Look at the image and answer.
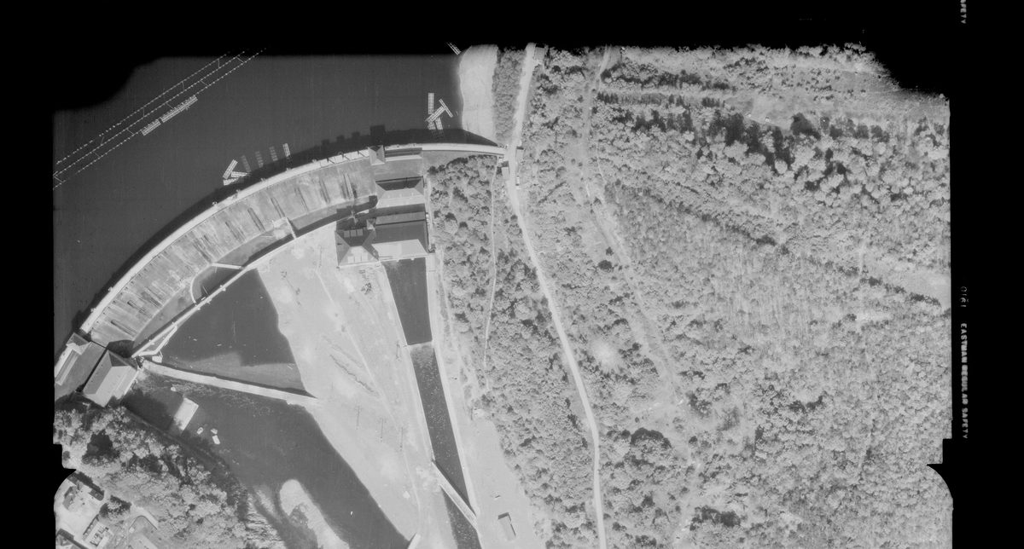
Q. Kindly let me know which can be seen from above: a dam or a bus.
dam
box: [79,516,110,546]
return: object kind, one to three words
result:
house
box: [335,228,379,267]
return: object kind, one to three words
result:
building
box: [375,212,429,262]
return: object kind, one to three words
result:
building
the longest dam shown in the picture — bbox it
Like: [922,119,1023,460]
[14,140,510,427]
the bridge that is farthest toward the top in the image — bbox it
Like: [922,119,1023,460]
[429,464,477,526]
